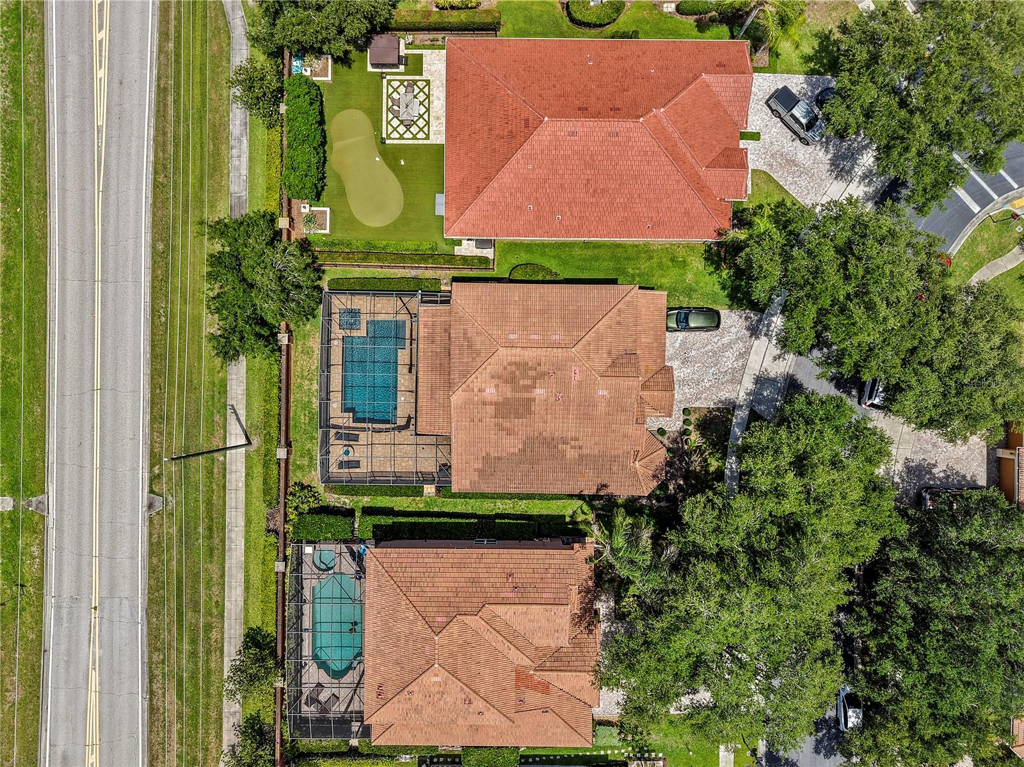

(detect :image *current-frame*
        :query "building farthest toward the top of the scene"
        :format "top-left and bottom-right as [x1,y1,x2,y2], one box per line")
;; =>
[444,37,752,243]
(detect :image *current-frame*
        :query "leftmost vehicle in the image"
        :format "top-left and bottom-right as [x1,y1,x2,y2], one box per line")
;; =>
[666,305,723,334]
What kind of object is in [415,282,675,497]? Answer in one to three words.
house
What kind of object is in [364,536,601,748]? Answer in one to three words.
house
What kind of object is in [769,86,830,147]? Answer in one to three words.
truck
